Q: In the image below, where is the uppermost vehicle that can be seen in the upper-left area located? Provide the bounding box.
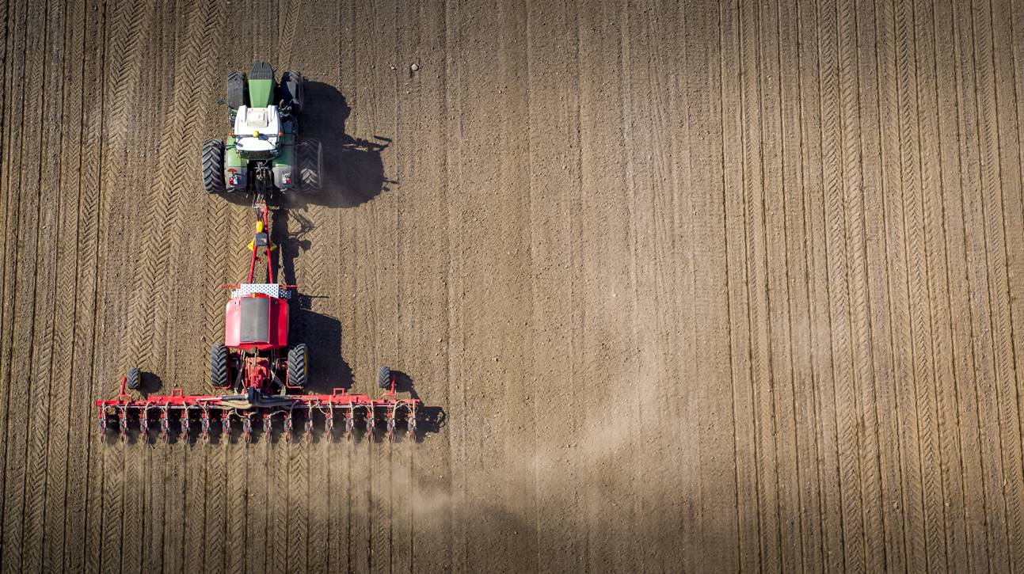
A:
[202,61,323,207]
